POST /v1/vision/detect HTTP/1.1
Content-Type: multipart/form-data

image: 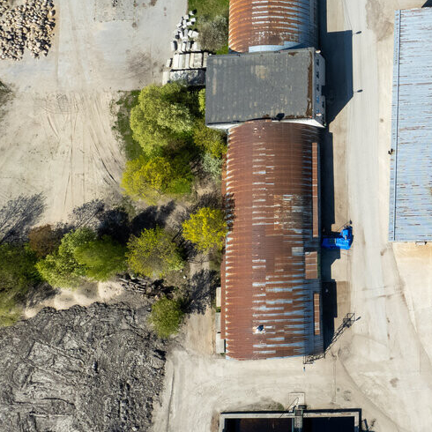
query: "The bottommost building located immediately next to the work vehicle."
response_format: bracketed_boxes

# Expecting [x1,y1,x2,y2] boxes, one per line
[225,125,326,358]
